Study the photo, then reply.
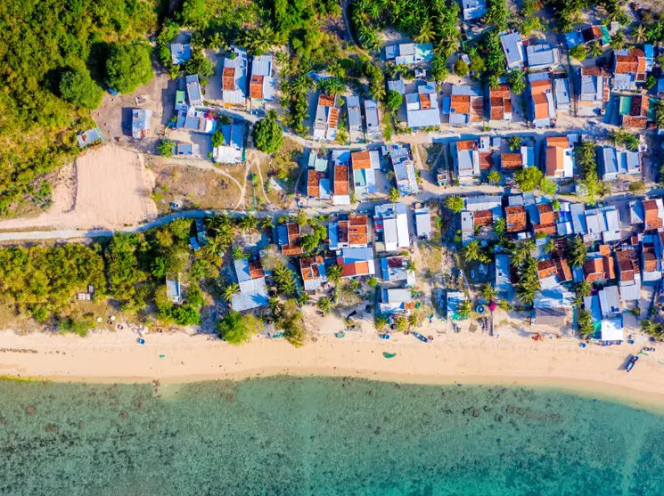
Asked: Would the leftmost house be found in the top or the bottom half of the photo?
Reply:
top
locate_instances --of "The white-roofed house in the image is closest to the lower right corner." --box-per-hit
[598,320,623,340]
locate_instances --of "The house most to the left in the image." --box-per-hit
[77,126,103,148]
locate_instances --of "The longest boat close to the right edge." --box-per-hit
[624,354,640,374]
